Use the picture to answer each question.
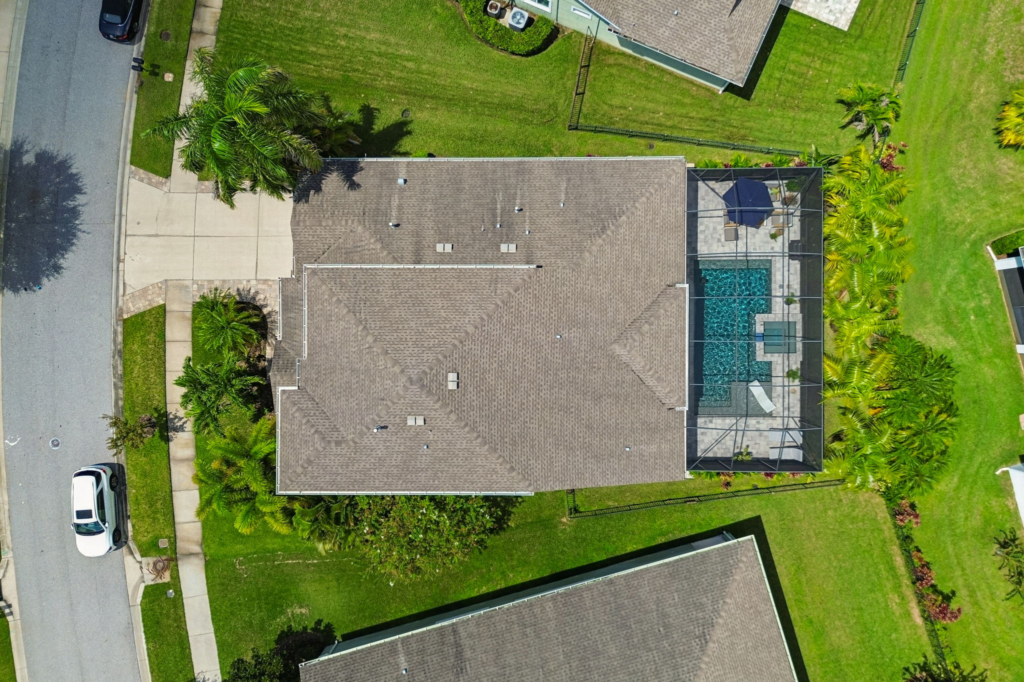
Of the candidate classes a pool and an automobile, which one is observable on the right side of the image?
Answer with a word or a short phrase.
pool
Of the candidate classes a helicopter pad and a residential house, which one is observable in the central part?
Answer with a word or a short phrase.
residential house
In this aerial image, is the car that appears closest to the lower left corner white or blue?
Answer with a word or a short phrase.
white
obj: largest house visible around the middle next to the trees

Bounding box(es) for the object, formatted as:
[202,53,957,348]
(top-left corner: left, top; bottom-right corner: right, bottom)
[268,155,691,495]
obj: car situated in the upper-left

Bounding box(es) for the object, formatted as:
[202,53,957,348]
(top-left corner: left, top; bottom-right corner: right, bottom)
[98,0,146,43]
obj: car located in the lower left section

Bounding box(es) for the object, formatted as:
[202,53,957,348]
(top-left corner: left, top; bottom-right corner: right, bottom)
[70,462,124,557]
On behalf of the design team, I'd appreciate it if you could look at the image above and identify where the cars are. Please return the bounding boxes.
[98,0,146,43]
[70,462,124,557]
